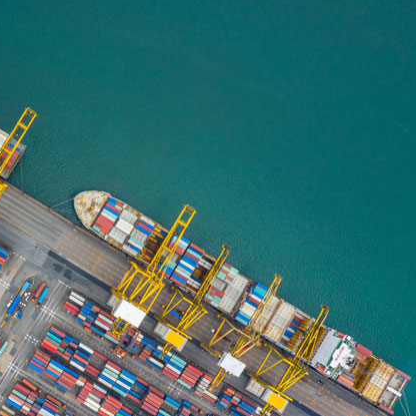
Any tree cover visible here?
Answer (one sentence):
No, tree cover can't be seen anywhere here.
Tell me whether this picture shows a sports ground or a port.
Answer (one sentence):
It's a port.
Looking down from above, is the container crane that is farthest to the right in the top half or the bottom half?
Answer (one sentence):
It is in the bottom half that the container crane that is farthest to the right appears.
